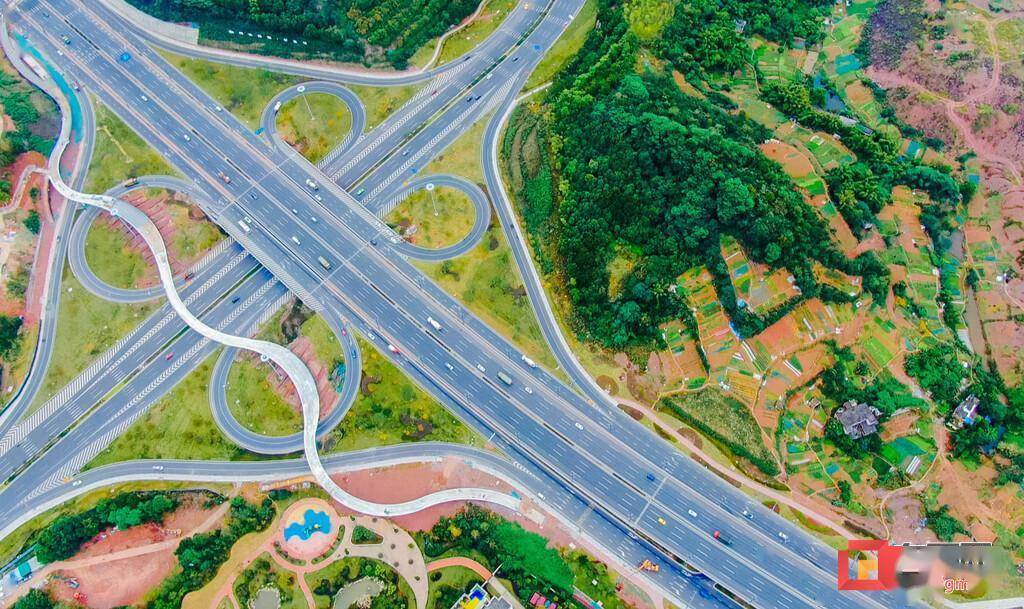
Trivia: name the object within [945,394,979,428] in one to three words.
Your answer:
house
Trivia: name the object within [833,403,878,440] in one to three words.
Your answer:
house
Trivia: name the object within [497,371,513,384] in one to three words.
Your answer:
vehicle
